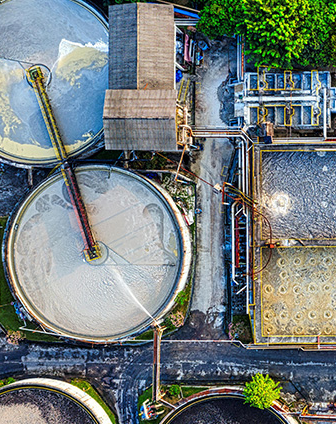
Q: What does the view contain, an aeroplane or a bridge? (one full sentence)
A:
There is a bridge in the scene.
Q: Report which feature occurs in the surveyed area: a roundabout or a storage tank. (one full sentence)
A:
The image shows a storage tank.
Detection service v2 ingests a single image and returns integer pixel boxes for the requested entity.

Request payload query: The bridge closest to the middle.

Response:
[61,162,97,255]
